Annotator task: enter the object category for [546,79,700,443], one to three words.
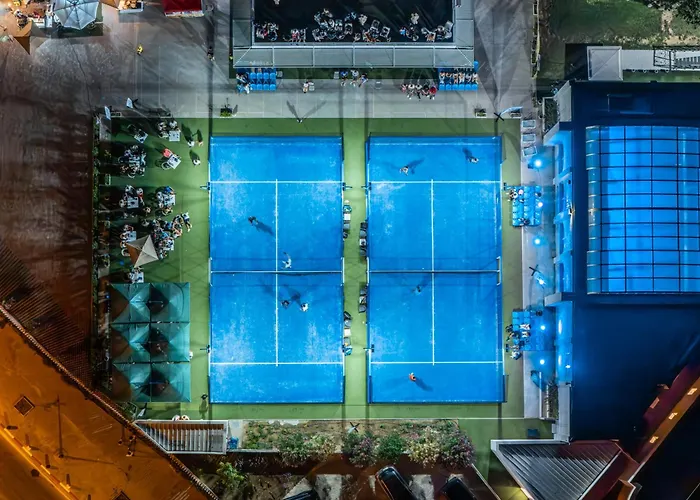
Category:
building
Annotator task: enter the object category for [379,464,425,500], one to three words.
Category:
car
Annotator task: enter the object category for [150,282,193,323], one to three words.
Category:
gazebo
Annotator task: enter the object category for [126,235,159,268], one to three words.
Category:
umbrella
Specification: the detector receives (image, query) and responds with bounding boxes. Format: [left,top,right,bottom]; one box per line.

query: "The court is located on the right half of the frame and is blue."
[366,132,510,406]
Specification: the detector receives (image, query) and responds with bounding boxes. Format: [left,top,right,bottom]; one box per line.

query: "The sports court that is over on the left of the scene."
[204,133,344,406]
